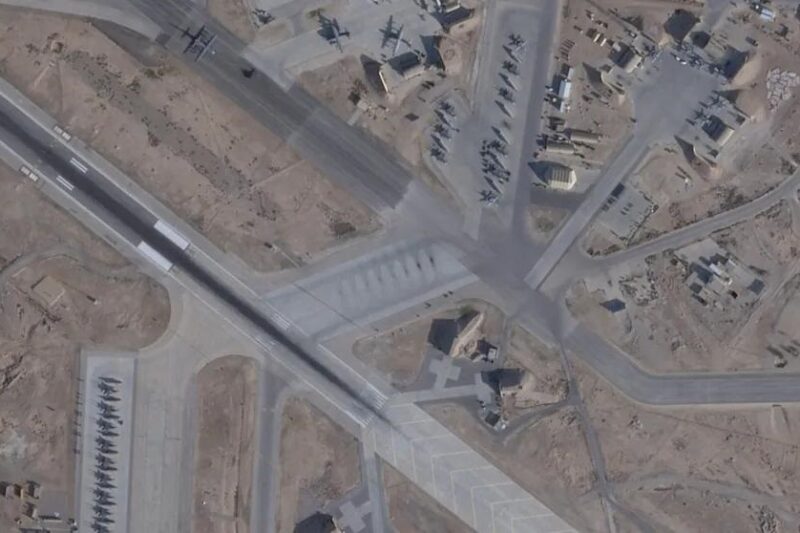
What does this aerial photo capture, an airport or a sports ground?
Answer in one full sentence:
The picture captures an airport.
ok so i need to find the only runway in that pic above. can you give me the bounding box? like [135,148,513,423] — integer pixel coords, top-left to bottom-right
[0,76,577,533]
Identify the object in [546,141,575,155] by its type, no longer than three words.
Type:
building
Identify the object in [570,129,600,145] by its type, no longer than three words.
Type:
building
